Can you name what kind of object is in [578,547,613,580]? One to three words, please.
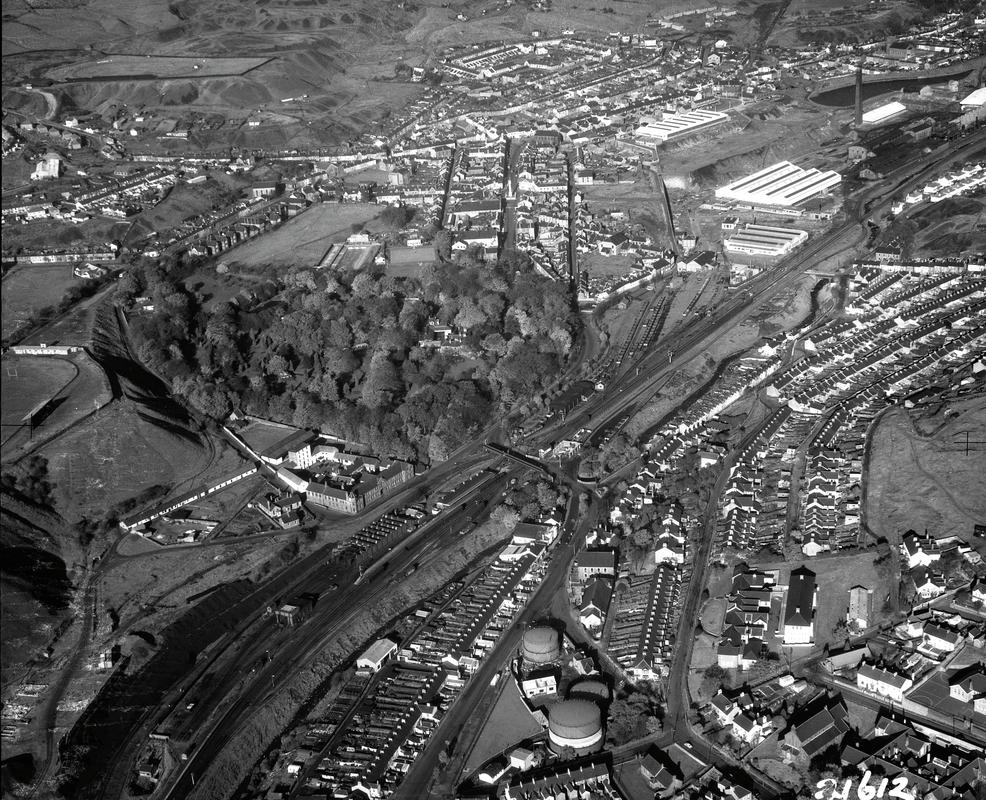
building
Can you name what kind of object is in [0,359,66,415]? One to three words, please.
sports field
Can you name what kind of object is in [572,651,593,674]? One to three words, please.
house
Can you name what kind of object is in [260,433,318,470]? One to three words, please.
shed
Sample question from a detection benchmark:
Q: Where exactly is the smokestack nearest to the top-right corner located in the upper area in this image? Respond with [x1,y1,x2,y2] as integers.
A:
[852,65,865,126]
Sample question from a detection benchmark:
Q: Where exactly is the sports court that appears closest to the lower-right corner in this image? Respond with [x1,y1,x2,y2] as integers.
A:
[909,672,975,717]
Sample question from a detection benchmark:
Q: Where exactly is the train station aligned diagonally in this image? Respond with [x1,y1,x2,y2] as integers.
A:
[350,473,501,582]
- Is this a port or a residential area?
residential area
